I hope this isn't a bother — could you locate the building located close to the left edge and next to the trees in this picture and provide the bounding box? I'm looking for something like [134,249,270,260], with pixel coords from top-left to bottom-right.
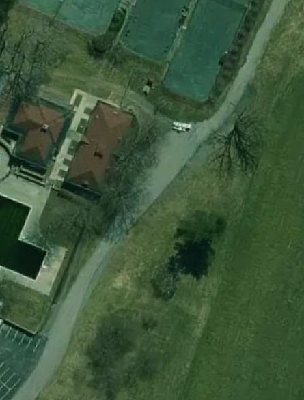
[3,97,70,167]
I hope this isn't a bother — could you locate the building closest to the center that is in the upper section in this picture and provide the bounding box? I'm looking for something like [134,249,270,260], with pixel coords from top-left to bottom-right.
[65,100,135,188]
